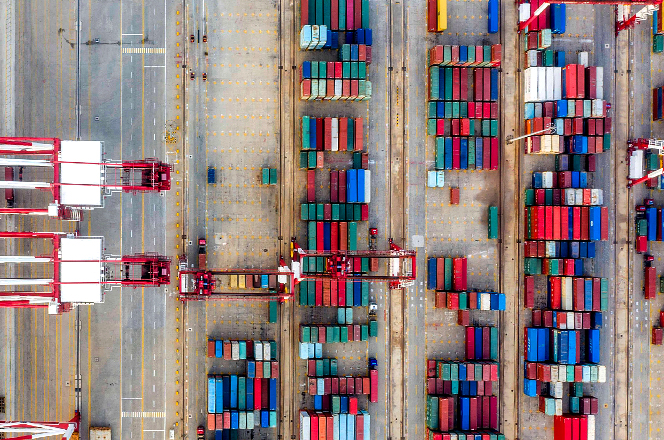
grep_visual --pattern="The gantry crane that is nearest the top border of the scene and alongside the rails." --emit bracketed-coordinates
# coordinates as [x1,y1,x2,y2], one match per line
[519,0,664,39]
